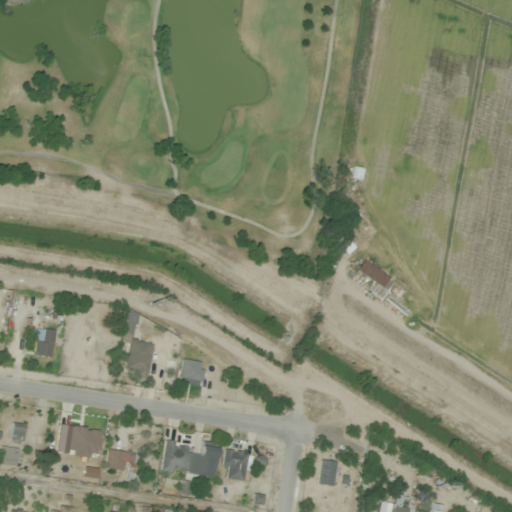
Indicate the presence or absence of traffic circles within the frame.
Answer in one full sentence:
No, no traffic circle is visible in the scene.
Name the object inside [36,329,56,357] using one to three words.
house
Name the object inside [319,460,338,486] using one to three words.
house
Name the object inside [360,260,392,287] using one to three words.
barn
